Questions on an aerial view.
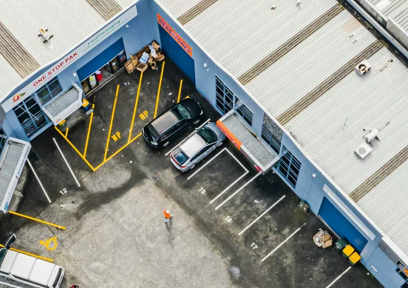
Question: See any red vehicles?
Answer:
No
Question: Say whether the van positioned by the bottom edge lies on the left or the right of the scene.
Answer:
left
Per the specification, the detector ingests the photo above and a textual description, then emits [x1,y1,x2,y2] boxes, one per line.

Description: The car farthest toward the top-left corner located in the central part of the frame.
[142,101,205,151]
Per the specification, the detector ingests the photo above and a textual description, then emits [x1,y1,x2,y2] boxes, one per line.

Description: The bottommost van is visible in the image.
[0,236,63,288]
